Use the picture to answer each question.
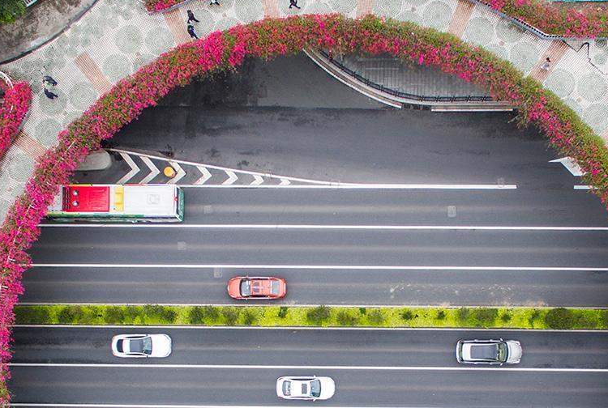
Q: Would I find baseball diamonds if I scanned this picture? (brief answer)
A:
No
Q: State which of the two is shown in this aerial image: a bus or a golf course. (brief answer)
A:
bus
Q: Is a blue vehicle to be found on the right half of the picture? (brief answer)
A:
No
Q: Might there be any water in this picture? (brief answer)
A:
No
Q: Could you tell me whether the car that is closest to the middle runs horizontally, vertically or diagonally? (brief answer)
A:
horizontally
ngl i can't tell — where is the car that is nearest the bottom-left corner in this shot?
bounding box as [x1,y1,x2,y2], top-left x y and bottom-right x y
[112,332,172,359]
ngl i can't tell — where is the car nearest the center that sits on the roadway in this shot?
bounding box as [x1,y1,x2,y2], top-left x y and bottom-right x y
[229,274,286,301]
